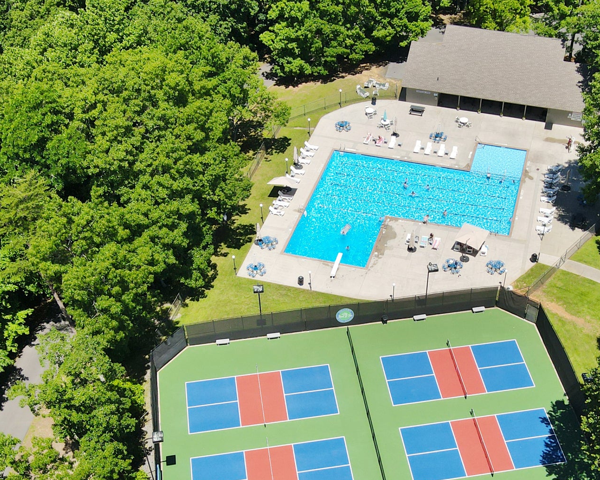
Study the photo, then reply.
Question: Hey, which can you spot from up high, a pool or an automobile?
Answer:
pool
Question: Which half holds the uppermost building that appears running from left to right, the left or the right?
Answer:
right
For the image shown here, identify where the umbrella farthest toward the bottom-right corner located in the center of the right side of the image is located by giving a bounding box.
[453,223,490,263]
